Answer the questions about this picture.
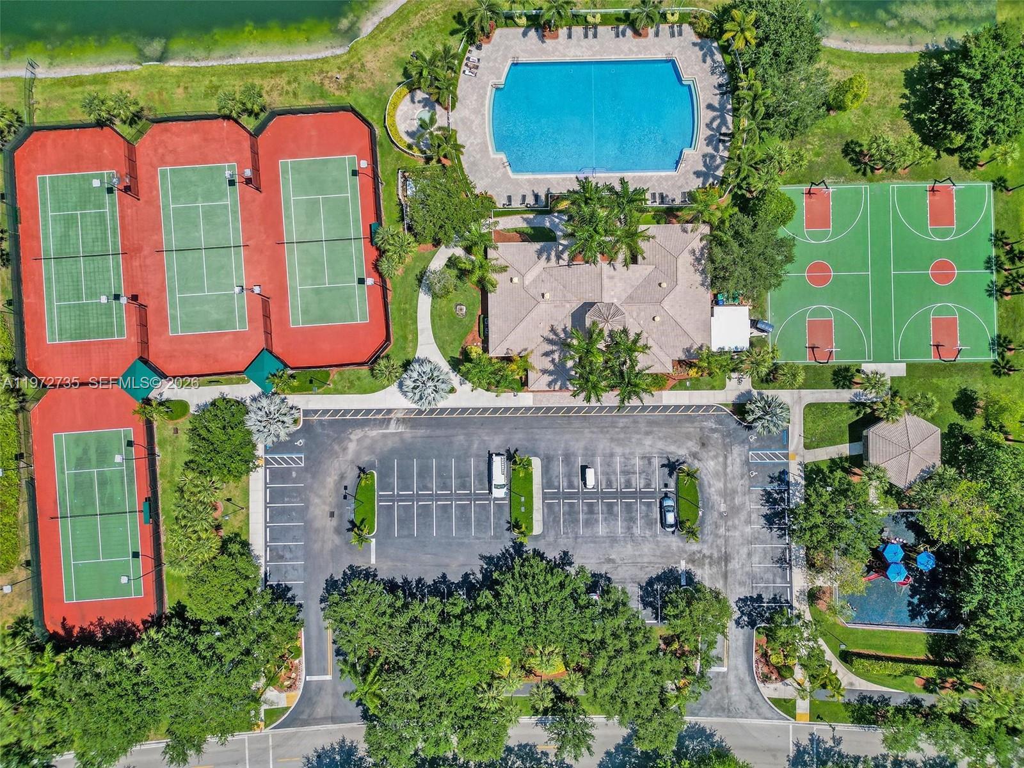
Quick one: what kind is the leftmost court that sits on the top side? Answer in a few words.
tennis court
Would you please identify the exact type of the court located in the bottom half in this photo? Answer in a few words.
tennis court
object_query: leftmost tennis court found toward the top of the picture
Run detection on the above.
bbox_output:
[15,127,149,387]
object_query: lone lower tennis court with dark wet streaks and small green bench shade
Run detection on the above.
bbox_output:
[31,385,167,634]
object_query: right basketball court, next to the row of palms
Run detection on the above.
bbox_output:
[878,181,998,363]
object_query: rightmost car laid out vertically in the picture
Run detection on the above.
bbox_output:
[660,497,676,531]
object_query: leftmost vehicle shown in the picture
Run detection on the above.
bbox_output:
[490,455,508,499]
